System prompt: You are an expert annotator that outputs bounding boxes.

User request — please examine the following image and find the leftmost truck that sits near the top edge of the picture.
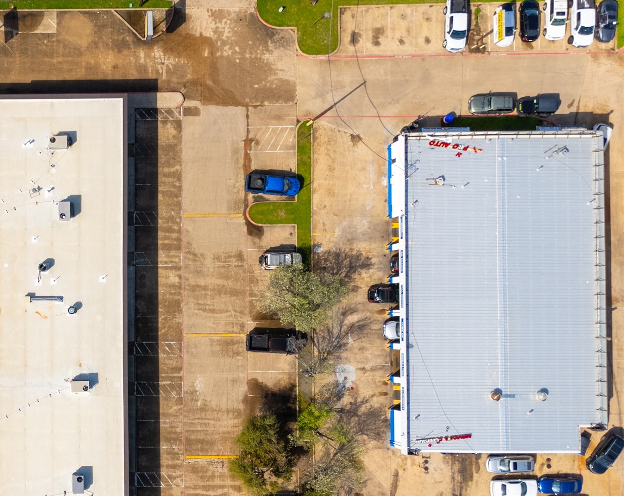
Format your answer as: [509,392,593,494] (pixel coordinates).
[444,0,470,52]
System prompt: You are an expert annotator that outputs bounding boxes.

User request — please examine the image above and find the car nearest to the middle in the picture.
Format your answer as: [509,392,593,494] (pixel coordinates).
[260,250,304,271]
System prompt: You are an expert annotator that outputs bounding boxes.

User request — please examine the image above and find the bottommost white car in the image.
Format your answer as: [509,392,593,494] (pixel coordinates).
[488,477,534,496]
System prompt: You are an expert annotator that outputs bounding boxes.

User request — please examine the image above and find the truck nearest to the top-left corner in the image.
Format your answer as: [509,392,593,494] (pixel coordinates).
[244,173,300,197]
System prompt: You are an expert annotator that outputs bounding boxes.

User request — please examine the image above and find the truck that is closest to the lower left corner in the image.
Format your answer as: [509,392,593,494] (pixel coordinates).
[246,331,303,353]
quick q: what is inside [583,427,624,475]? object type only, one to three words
car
